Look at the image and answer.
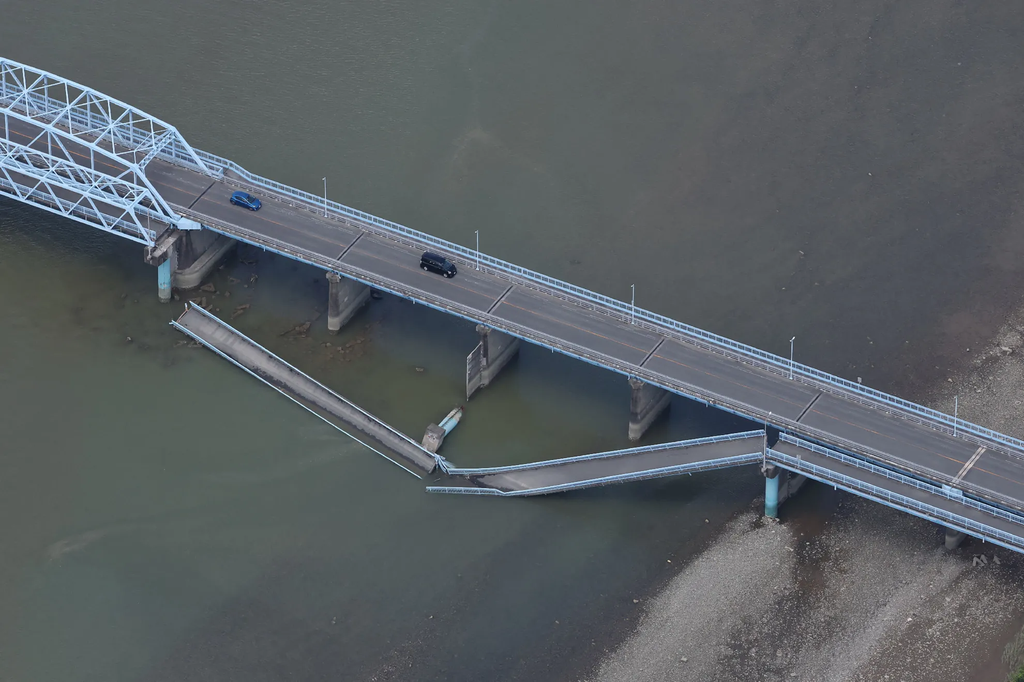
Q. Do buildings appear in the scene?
No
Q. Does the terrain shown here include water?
Yes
